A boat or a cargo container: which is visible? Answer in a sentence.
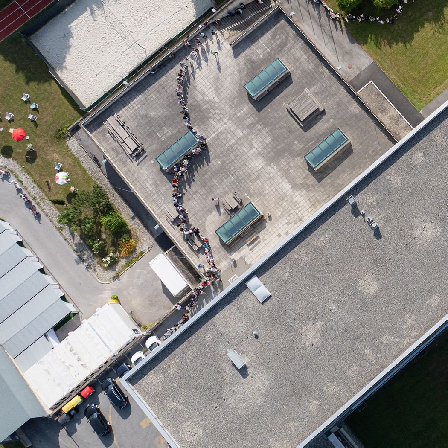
I can see a cargo container in this picture.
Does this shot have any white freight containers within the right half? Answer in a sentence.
No, I can find no white freight container within the right half.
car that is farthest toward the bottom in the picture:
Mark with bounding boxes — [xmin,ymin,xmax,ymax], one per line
[86,404,112,436]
